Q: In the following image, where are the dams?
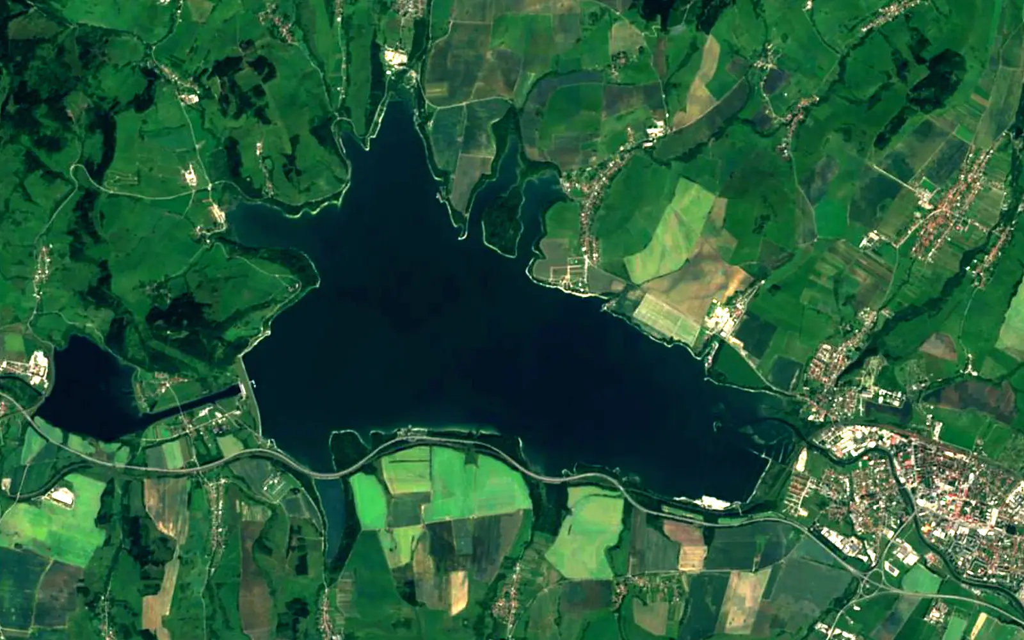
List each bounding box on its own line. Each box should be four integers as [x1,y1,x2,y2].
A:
[235,355,263,436]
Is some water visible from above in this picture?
Yes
